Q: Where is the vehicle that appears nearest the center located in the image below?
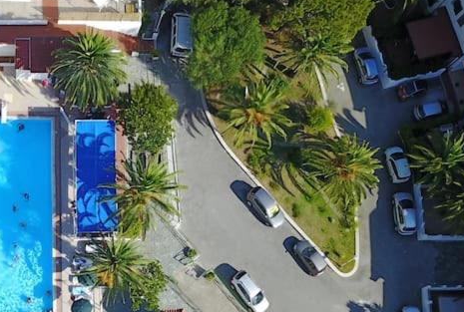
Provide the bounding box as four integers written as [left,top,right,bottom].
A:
[245,184,285,230]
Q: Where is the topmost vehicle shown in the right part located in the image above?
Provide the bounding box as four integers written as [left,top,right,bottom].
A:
[353,47,380,87]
